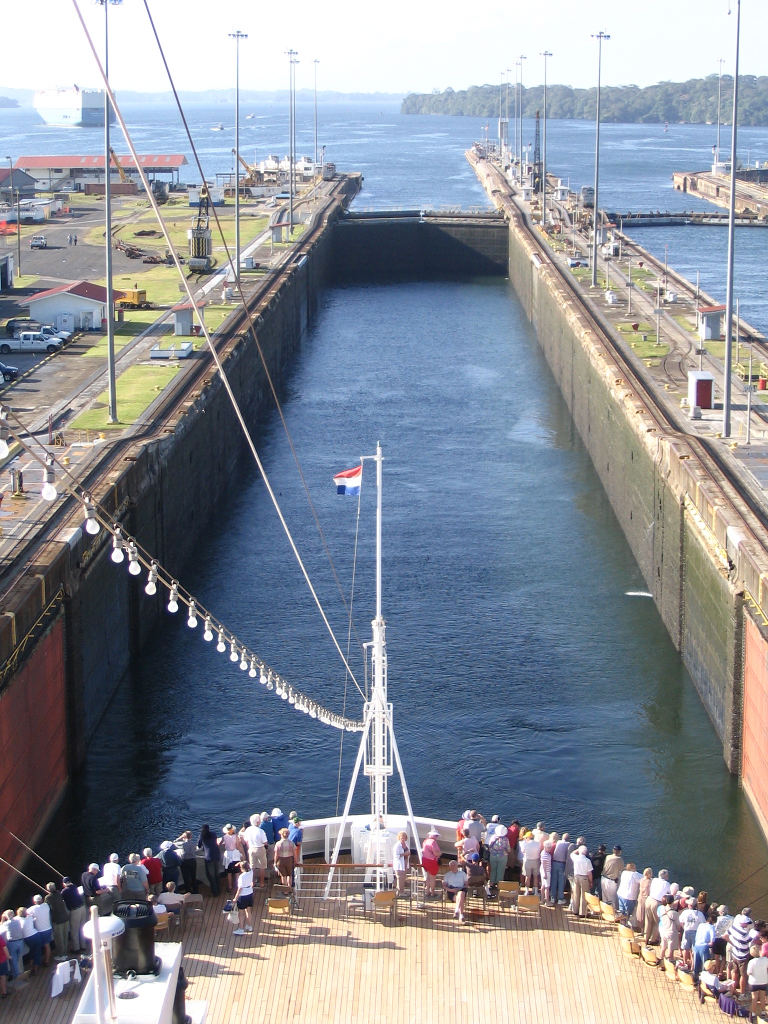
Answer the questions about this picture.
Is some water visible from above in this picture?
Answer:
Yes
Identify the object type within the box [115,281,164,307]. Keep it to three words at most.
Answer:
trailer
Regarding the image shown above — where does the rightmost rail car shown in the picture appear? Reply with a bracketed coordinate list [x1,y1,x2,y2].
[581,186,594,207]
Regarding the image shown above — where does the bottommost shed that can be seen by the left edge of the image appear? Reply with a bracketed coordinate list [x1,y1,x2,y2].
[18,284,126,332]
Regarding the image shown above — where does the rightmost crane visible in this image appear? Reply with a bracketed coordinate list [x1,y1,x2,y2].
[529,113,543,193]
